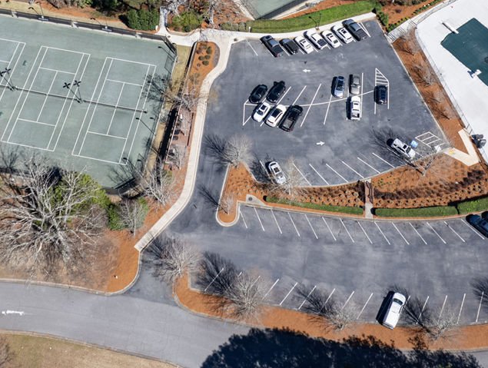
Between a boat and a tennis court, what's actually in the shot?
tennis court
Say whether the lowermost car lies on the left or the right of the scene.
right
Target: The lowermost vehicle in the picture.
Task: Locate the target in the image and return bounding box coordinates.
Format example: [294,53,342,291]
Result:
[384,293,405,328]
